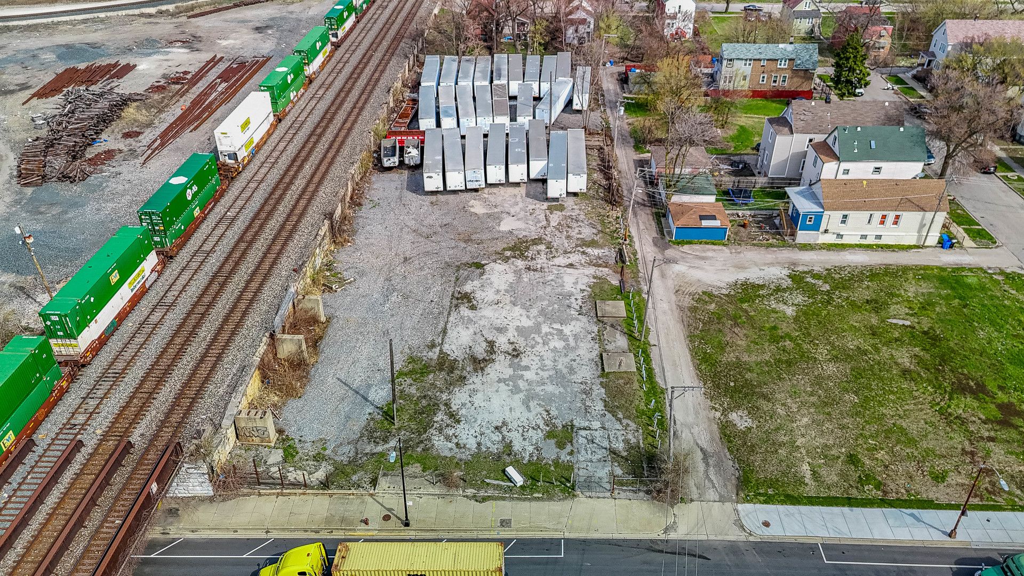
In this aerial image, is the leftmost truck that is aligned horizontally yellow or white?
yellow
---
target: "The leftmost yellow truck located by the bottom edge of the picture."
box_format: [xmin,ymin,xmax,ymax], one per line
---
[262,544,335,576]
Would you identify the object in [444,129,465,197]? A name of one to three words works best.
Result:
trailer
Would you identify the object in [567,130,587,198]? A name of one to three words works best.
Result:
trailer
